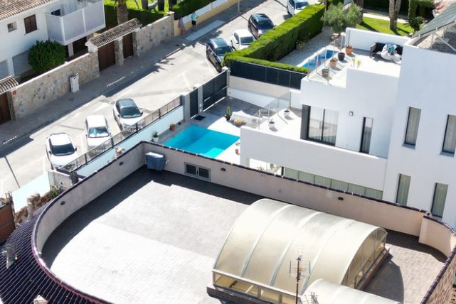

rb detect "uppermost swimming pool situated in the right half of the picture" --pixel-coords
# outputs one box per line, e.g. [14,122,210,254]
[299,44,343,69]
